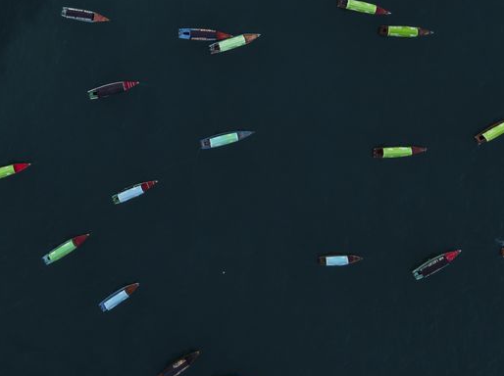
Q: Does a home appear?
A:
No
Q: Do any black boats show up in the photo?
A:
Yes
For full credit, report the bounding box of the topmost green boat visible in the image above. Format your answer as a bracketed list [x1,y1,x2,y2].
[336,0,392,14]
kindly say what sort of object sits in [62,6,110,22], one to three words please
boat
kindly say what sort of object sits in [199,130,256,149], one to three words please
boat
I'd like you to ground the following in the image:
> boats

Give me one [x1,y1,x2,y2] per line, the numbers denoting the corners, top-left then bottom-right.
[41,234,90,266]
[208,34,262,53]
[62,6,110,22]
[99,284,140,312]
[336,0,392,14]
[413,251,462,281]
[0,162,31,178]
[319,255,362,267]
[199,130,256,149]
[373,146,428,158]
[378,26,435,37]
[474,120,504,146]
[87,81,140,101]
[179,29,233,40]
[111,181,159,205]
